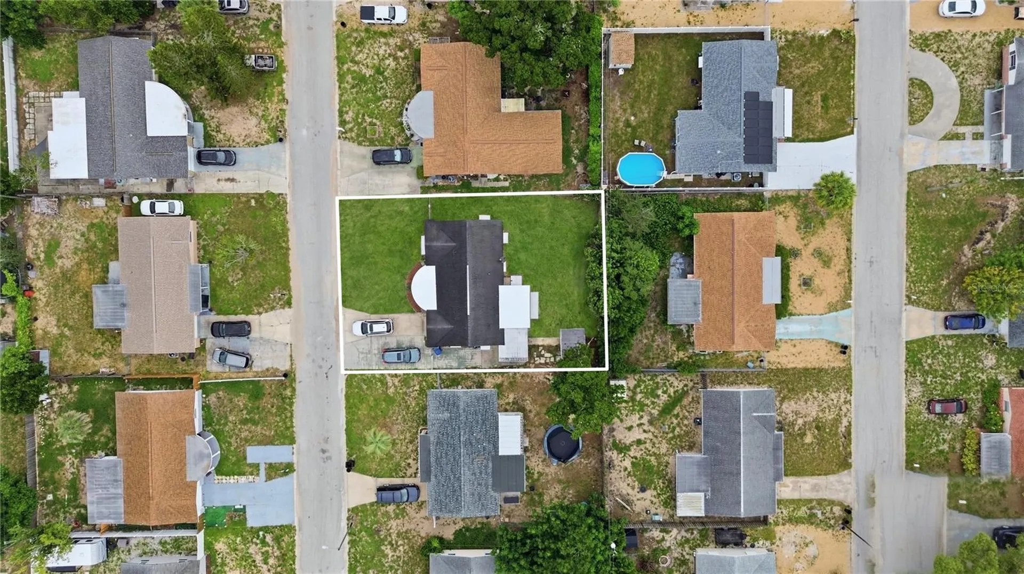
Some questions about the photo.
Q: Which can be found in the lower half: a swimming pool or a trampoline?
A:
trampoline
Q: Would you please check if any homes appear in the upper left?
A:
Yes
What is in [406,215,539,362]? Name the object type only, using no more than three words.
house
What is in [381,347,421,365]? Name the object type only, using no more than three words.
car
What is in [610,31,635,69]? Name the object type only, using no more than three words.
shed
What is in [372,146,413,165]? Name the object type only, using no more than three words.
car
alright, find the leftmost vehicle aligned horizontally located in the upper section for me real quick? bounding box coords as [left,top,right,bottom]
[142,198,186,216]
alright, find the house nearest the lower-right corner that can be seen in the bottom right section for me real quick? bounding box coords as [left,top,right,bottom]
[967,387,1024,480]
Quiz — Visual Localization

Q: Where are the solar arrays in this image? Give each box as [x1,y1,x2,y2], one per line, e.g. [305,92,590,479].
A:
[741,91,772,164]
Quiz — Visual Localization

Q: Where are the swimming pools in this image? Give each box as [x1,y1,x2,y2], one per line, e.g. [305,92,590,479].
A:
[615,152,667,187]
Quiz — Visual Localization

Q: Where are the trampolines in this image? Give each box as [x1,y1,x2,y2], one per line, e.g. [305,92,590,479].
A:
[544,425,581,467]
